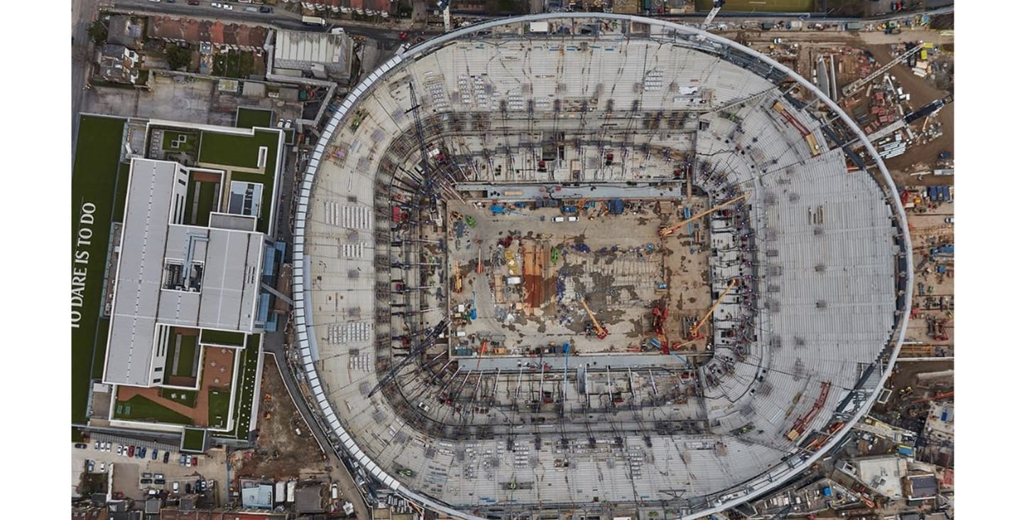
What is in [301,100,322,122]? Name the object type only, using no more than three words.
building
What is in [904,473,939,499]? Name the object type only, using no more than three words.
house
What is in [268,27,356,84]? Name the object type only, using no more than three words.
building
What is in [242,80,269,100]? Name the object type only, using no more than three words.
shed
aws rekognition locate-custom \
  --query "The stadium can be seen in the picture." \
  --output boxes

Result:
[292,11,915,520]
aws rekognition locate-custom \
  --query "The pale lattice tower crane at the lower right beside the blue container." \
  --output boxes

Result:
[842,417,920,463]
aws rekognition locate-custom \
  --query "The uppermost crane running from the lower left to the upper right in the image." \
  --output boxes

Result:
[686,0,725,43]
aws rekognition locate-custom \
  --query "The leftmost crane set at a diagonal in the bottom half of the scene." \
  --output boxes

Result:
[368,309,462,396]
